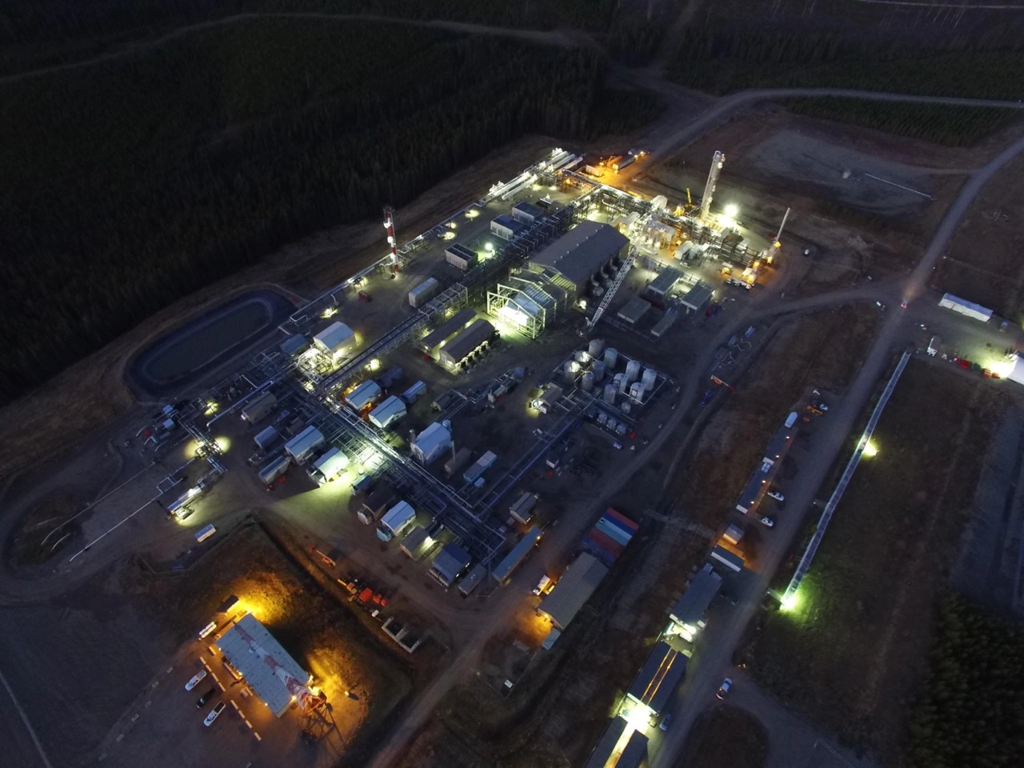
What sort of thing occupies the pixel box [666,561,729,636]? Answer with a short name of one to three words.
building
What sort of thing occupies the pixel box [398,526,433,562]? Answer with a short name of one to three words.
shed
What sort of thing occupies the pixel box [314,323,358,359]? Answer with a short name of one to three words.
shed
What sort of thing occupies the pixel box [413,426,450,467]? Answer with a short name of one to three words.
building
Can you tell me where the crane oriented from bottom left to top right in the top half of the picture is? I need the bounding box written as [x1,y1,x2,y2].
[572,244,639,334]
